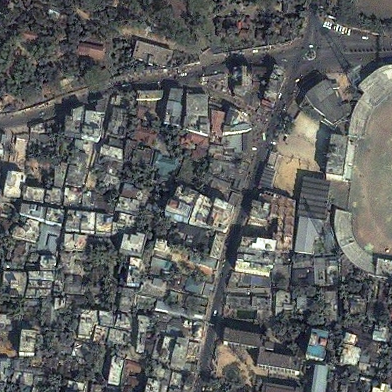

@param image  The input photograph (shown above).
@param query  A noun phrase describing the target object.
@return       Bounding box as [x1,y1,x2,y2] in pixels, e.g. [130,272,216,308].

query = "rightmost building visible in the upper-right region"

[306,78,351,126]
